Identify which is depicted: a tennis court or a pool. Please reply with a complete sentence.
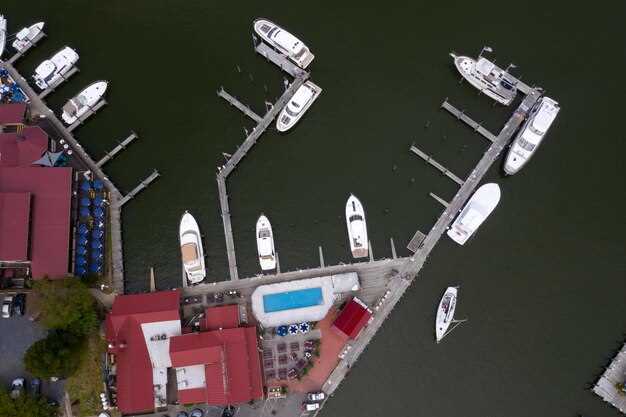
Looking from above, you can make out a pool.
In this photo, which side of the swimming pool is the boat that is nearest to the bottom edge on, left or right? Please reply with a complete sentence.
Relative to the swimming pool, the boat that is nearest to the bottom edge is on the right.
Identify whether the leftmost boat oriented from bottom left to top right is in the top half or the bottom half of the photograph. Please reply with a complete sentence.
You can find the leftmost boat oriented from bottom left to top right in the top half.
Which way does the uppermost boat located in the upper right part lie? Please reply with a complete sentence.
In this picture, the uppermost boat located in the upper right part lies on a diagonal.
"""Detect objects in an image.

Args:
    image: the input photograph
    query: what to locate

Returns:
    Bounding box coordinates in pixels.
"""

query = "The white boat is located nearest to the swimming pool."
[256,215,277,275]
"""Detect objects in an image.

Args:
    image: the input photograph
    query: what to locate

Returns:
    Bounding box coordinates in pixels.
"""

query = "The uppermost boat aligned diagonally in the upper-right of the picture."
[450,54,518,105]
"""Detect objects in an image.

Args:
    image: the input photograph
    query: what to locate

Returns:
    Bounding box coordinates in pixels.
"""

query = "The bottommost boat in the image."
[436,287,464,342]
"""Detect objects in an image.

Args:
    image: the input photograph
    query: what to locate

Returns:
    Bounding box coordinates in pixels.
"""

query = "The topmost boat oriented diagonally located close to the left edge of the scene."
[5,22,50,52]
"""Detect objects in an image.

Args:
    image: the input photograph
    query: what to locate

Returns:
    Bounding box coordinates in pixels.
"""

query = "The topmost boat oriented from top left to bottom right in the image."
[254,21,315,68]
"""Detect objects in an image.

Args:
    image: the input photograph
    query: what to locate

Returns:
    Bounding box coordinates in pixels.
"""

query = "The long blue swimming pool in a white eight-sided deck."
[252,276,334,325]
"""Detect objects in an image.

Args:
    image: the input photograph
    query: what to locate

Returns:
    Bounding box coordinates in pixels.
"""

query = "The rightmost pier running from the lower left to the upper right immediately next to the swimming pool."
[321,64,545,397]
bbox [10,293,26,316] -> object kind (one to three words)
car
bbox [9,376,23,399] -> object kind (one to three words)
car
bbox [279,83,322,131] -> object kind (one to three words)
boat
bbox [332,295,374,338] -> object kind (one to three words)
building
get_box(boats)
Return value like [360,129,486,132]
[0,13,7,59]
[254,21,315,68]
[436,287,464,342]
[279,83,322,131]
[30,46,76,89]
[180,209,207,285]
[504,94,564,176]
[5,22,50,52]
[256,215,277,275]
[59,83,106,128]
[345,194,369,259]
[450,54,518,105]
